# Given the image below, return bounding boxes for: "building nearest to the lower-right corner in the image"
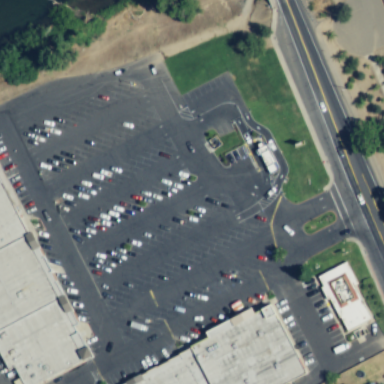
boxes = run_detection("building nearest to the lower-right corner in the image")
[318,262,373,342]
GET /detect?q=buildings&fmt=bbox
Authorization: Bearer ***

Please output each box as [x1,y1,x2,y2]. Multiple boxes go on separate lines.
[0,184,92,384]
[122,302,306,384]
[258,142,280,174]
[318,262,373,342]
